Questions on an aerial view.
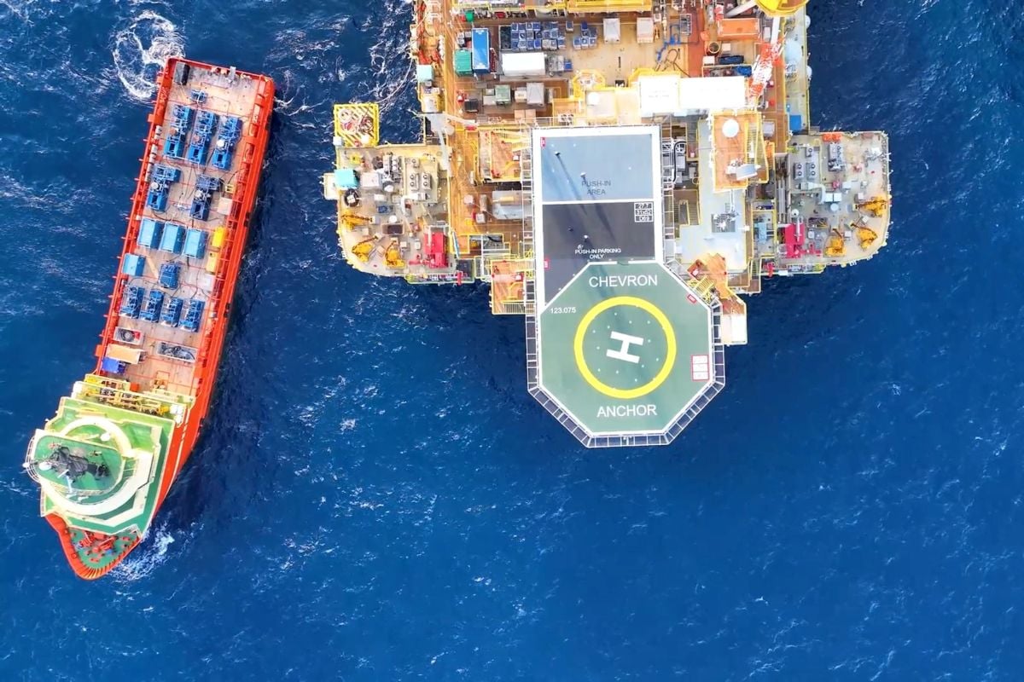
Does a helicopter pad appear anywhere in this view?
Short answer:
Yes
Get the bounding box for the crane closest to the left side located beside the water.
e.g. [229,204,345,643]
[418,110,479,179]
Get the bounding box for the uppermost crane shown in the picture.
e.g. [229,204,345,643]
[742,0,810,118]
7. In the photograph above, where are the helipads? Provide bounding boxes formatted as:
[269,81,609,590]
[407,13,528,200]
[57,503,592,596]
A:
[522,123,726,448]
